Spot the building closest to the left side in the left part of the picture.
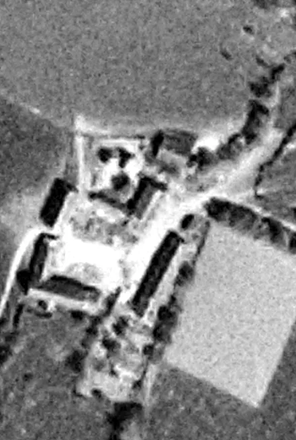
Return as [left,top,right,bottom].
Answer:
[35,236,57,281]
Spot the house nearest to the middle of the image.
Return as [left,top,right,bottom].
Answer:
[132,183,165,224]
